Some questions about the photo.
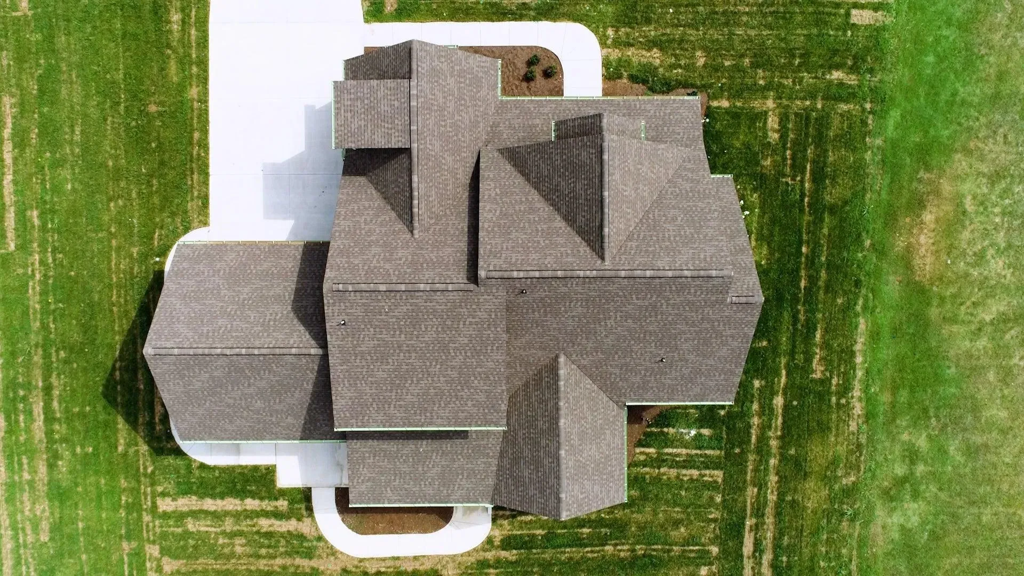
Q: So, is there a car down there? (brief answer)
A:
No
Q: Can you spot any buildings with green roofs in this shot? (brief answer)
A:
No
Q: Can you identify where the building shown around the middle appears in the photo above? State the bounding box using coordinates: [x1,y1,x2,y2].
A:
[144,40,763,519]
